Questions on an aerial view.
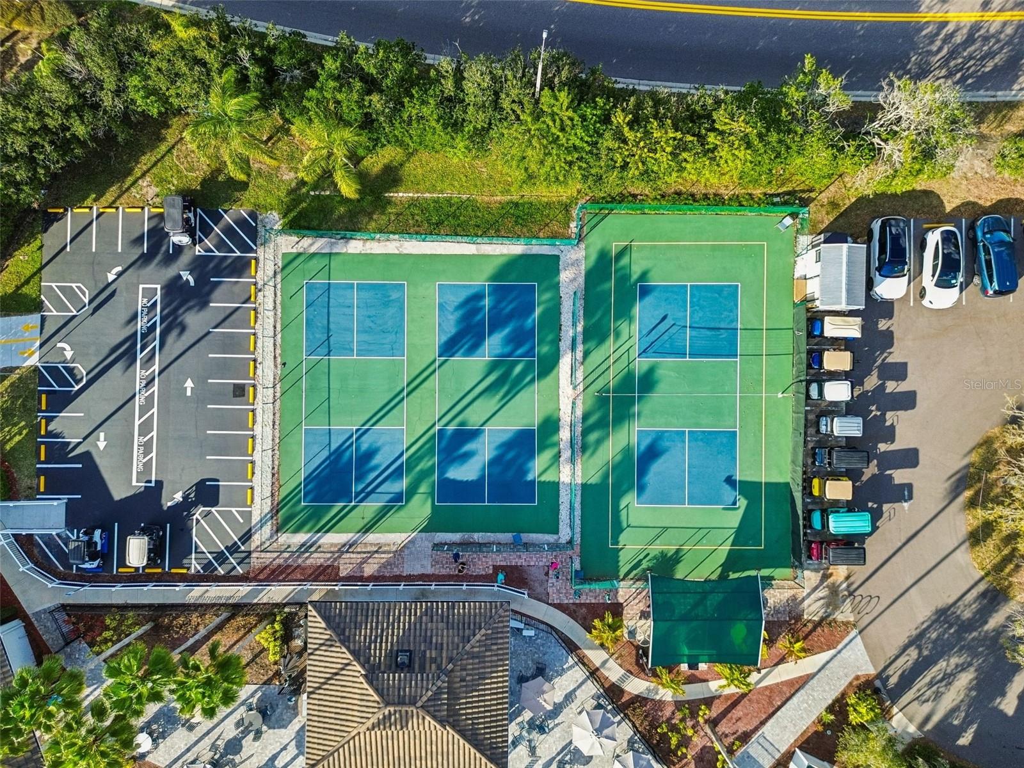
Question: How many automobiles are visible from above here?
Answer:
3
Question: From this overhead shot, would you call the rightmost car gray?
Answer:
No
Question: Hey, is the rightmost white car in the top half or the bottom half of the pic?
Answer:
top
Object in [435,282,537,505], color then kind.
blue sports court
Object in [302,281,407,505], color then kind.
blue sports court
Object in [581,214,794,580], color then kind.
green sports court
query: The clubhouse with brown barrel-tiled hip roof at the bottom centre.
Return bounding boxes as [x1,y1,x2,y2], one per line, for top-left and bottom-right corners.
[304,600,512,768]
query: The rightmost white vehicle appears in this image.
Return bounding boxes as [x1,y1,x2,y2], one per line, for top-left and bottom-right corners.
[919,227,966,309]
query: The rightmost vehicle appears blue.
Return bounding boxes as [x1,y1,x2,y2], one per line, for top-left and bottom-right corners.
[968,217,1017,298]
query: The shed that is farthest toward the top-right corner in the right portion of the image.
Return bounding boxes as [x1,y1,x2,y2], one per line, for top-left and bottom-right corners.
[804,241,866,310]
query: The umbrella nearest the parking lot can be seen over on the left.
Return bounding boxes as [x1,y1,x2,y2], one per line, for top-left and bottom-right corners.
[280,647,306,675]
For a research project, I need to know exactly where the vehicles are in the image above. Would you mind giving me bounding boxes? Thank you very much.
[968,217,1017,298]
[867,217,912,300]
[808,315,862,341]
[815,412,863,438]
[126,521,163,568]
[919,227,966,309]
[806,536,866,564]
[163,194,198,243]
[807,348,857,374]
[808,475,852,501]
[67,523,106,568]
[811,444,869,470]
[808,507,871,534]
[807,378,855,404]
